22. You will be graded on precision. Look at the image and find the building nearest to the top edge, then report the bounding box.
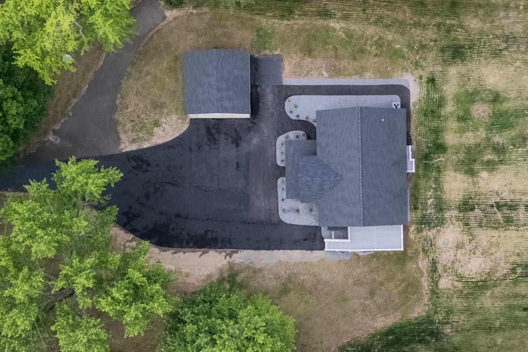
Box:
[185,48,251,117]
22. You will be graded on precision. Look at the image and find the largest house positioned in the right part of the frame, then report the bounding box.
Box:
[285,107,417,250]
